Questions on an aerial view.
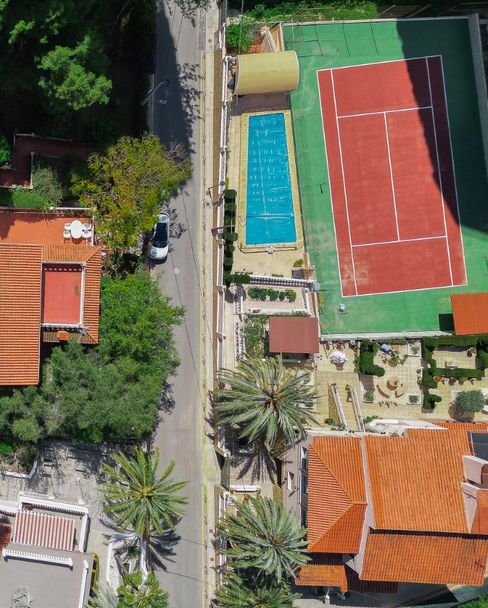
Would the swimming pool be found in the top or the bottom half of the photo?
top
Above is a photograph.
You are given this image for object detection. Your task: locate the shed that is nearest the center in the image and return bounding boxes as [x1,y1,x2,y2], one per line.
[262,317,320,352]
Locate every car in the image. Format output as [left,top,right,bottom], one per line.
[149,213,175,261]
[88,554,105,598]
